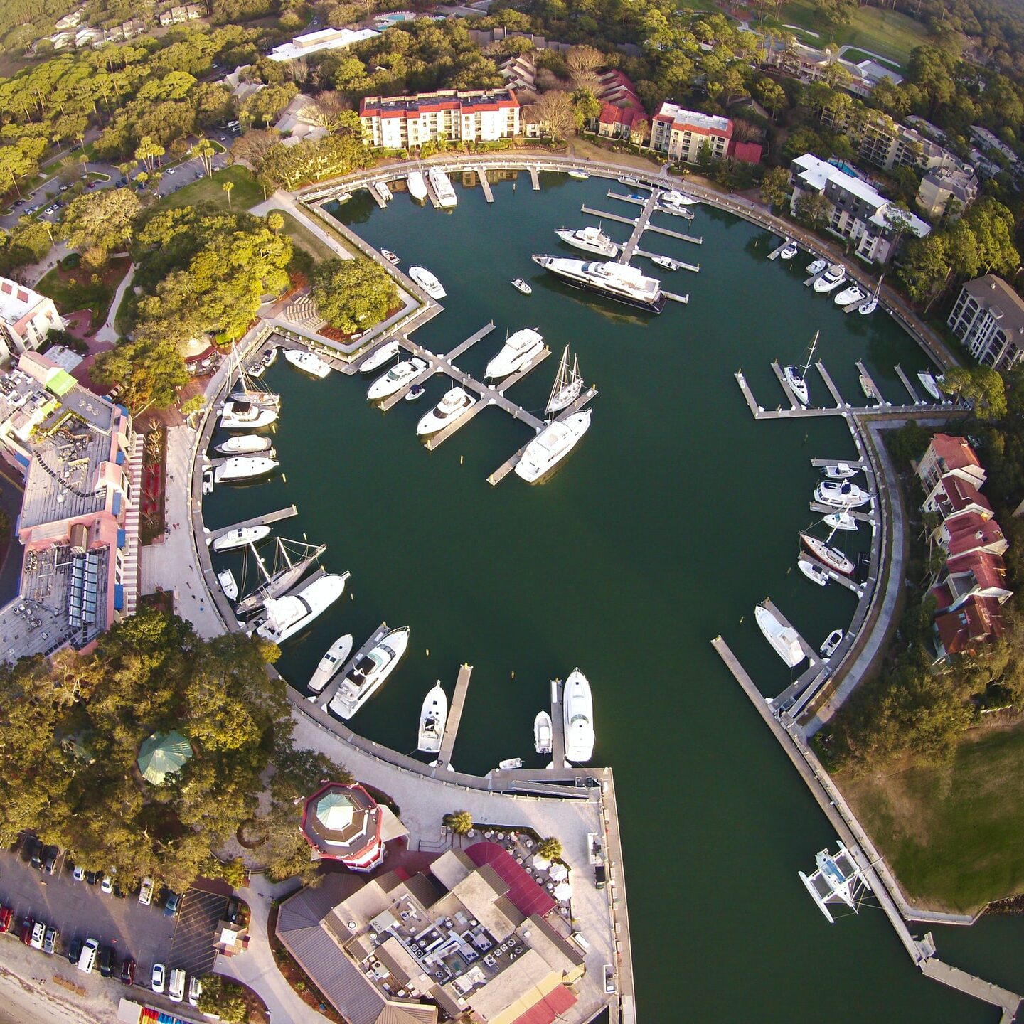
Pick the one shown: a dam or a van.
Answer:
van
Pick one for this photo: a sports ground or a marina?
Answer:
marina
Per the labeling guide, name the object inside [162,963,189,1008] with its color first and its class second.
white vehicle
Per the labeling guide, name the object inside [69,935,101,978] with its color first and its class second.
white van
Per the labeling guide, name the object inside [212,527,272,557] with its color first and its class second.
white boat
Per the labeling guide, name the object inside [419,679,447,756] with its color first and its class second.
white boat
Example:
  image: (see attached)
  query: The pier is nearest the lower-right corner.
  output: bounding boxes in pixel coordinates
[923,957,1021,1024]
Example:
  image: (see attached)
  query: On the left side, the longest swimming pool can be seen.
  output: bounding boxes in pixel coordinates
[377,11,415,29]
